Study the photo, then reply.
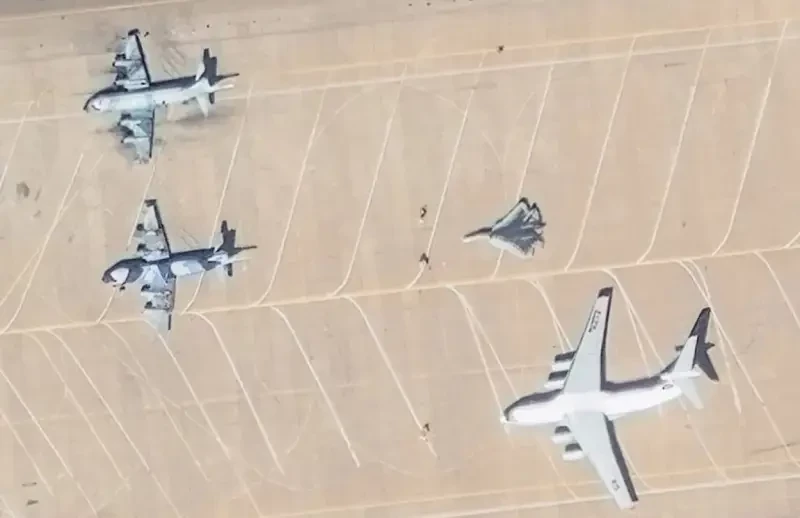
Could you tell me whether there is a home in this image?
No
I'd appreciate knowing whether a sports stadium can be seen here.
No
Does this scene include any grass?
No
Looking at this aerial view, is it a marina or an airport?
airport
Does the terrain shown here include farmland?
No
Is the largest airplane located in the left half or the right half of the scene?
right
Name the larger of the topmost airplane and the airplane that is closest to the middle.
the topmost airplane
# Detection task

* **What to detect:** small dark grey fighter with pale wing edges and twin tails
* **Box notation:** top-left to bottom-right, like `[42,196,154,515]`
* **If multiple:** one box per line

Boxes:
[462,205,543,259]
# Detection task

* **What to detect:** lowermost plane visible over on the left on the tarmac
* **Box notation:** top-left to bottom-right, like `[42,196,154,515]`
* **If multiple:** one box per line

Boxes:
[101,206,252,335]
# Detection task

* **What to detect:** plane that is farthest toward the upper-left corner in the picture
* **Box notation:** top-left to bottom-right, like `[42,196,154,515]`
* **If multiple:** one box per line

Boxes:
[84,35,234,163]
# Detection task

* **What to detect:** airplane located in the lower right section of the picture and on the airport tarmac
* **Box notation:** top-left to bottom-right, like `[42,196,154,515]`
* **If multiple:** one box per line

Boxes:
[502,295,706,510]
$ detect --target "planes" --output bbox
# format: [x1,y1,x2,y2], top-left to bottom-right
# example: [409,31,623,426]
[101,206,252,335]
[84,35,234,163]
[462,205,543,259]
[502,295,706,510]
